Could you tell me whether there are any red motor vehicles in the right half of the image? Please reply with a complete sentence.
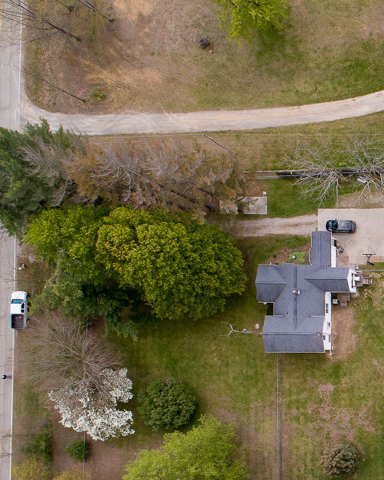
No, there's no red motor vehicle to be seen in the right half of the image.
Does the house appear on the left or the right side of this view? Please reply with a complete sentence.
The house sits on the right side.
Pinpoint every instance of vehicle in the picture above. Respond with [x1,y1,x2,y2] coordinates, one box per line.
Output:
[3,291,26,329]
[324,217,356,233]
